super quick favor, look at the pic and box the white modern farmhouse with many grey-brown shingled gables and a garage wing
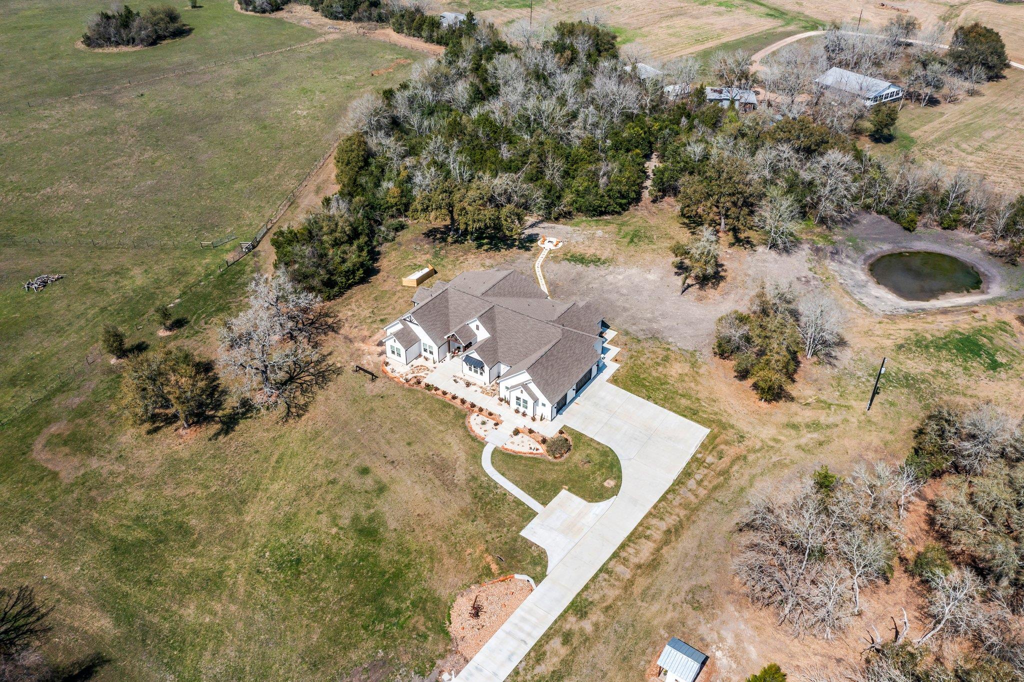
[381,270,604,421]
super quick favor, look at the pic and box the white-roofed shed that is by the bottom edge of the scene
[656,642,705,682]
